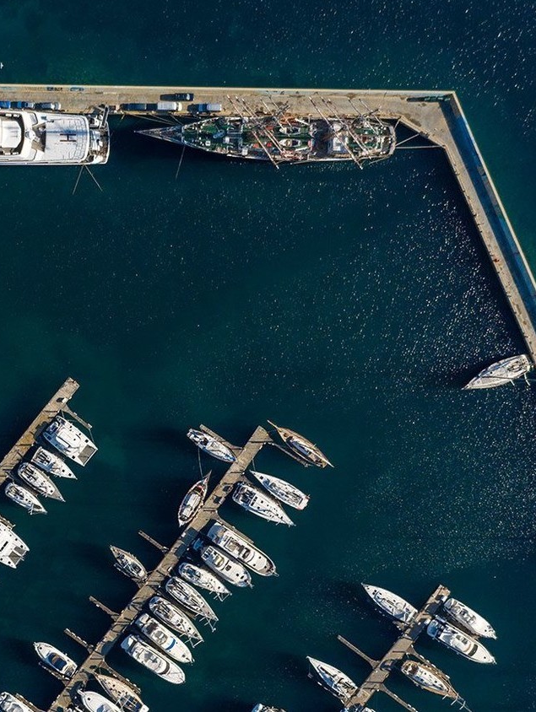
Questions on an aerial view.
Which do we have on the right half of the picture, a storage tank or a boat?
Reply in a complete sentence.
Looking on the right half of the picture, you will find a boat.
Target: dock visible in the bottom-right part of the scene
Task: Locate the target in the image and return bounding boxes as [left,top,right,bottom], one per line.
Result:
[315,584,480,712]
